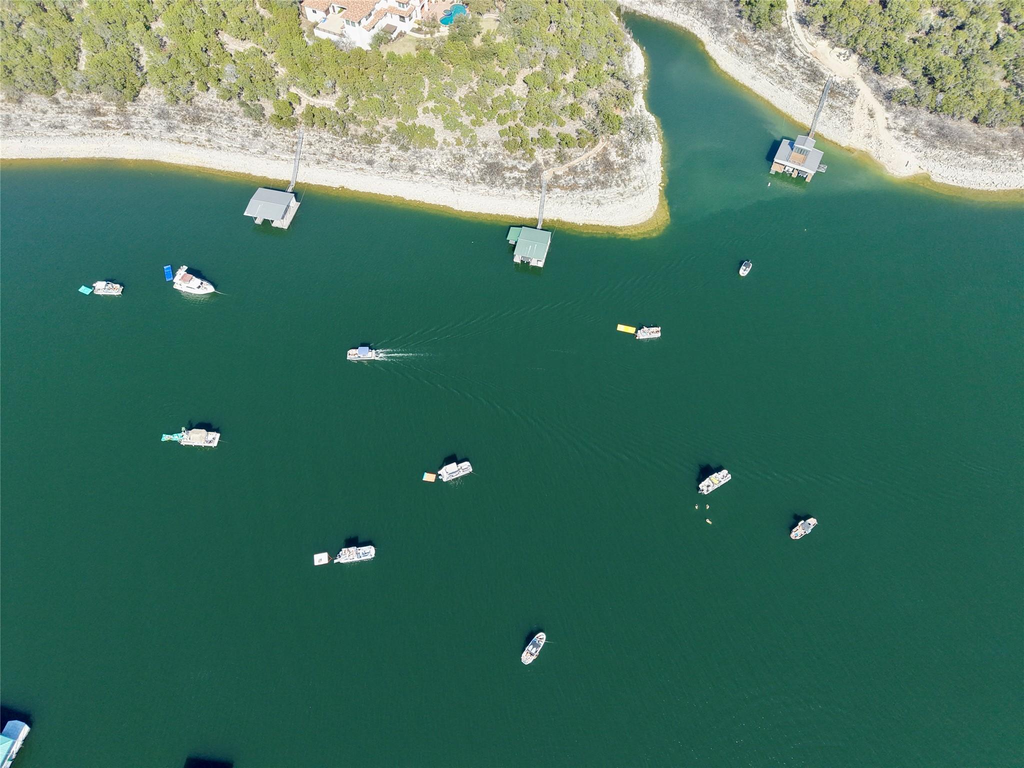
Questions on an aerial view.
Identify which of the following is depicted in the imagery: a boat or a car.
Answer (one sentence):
The one in the frame is a boat.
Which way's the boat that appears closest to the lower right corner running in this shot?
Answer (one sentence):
I'd say the boat that appears closest to the lower right corner is aligned at an angle in the picture.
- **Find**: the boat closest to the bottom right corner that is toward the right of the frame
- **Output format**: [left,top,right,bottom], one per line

[786,518,817,542]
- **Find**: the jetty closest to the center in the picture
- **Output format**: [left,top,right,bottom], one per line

[507,227,551,268]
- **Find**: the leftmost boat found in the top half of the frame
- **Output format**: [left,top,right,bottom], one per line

[90,280,124,295]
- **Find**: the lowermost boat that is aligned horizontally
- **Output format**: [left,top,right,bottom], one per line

[335,544,376,562]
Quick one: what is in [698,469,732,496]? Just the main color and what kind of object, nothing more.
white boat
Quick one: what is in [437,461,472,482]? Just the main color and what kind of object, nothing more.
white boat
